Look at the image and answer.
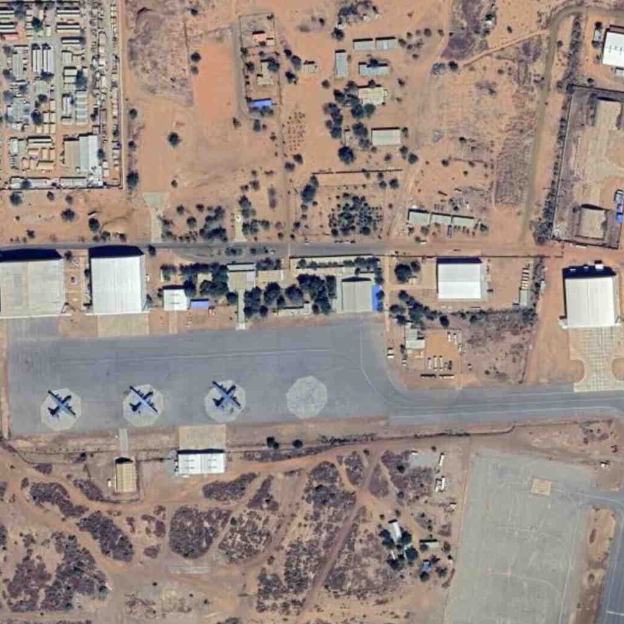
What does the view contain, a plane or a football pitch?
plane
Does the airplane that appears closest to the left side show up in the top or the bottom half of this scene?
bottom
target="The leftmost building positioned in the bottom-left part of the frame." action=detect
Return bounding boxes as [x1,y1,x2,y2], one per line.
[116,462,137,492]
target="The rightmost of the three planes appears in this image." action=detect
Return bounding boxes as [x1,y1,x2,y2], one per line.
[214,384,240,410]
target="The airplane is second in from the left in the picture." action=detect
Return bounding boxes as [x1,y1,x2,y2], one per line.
[131,390,159,416]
